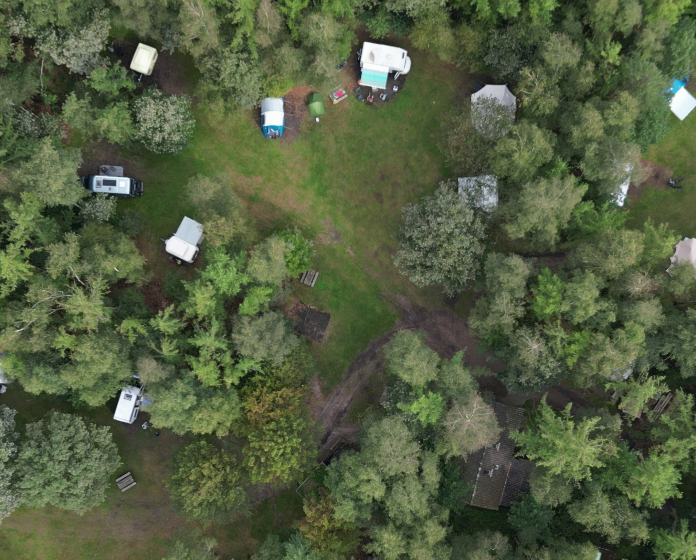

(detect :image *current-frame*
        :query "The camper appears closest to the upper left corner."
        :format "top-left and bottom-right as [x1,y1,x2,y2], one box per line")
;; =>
[131,42,159,86]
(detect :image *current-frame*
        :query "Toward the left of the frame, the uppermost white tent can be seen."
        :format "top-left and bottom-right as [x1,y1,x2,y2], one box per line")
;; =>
[258,97,292,139]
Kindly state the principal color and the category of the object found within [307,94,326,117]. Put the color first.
green tent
